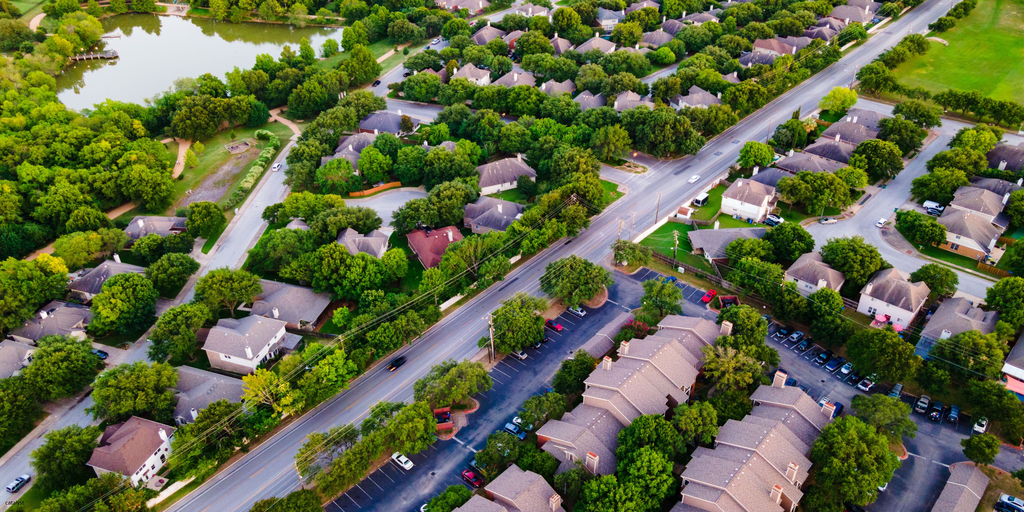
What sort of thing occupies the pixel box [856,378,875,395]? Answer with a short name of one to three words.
vehicle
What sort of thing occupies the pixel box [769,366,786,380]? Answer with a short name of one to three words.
car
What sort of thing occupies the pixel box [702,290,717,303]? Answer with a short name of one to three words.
vehicle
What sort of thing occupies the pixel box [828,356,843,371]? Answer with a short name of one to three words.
car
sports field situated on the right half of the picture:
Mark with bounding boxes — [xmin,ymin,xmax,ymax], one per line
[863,0,1024,113]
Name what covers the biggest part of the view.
trees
